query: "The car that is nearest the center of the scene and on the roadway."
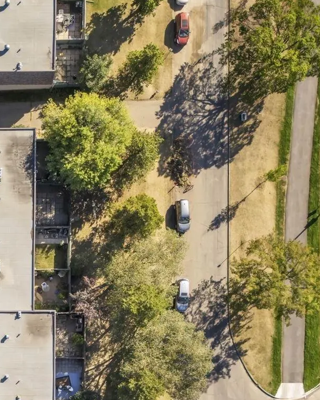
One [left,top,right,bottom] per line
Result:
[174,199,193,235]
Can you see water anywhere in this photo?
No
